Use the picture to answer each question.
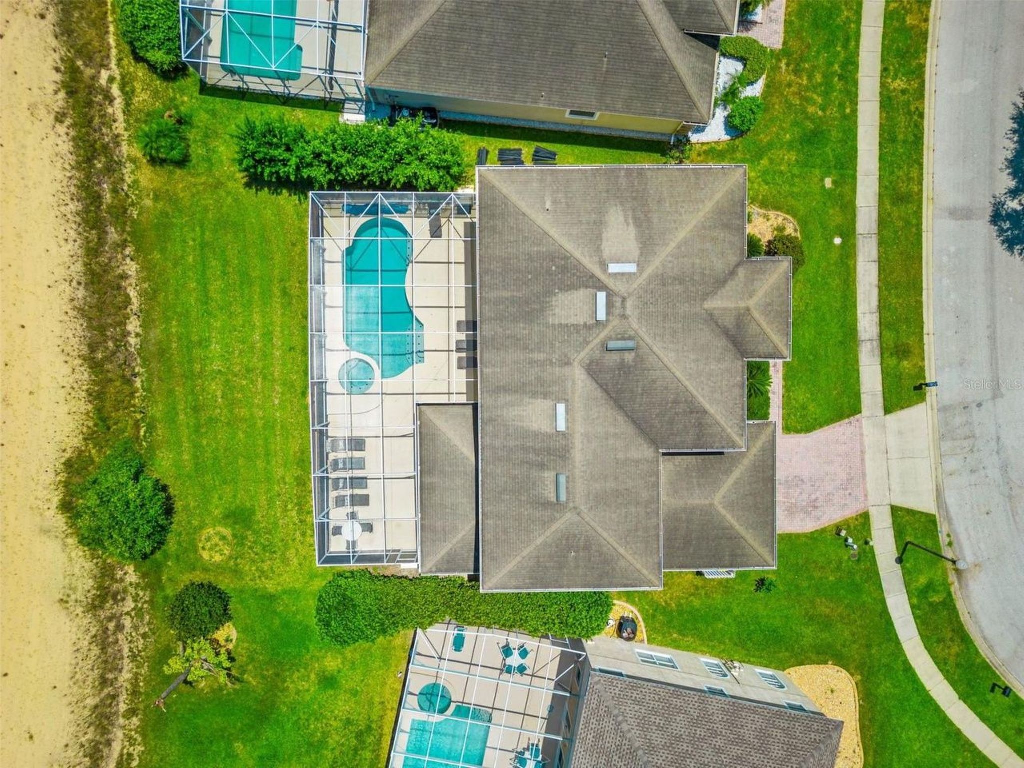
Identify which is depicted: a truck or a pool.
pool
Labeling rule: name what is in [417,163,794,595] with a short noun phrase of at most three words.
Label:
house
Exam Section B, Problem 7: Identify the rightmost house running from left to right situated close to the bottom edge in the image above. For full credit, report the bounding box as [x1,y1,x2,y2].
[563,637,845,768]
